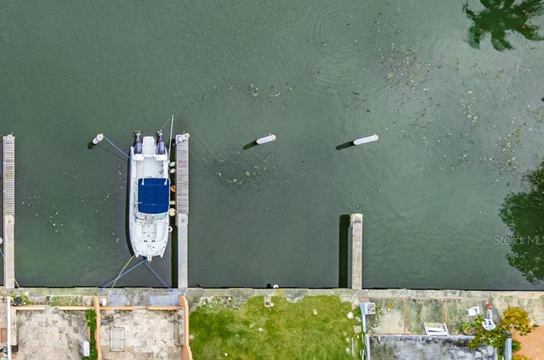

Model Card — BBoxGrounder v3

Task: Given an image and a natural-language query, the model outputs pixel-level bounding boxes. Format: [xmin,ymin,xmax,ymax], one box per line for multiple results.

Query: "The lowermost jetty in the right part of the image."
[350,214,362,290]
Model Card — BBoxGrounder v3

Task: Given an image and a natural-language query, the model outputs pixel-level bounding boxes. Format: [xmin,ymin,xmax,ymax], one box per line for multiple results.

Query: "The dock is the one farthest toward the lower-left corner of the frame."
[2,136,15,290]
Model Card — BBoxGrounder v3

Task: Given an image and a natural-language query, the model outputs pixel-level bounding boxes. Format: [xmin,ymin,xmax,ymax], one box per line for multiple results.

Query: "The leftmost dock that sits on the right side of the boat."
[171,134,190,290]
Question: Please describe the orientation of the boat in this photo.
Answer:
up and down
